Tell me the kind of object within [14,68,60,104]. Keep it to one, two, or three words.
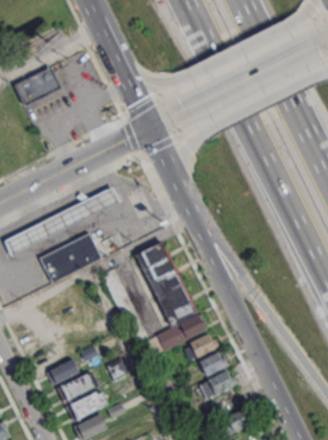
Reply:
building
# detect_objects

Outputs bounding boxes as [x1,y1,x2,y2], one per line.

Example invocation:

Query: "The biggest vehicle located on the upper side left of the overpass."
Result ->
[96,44,116,74]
